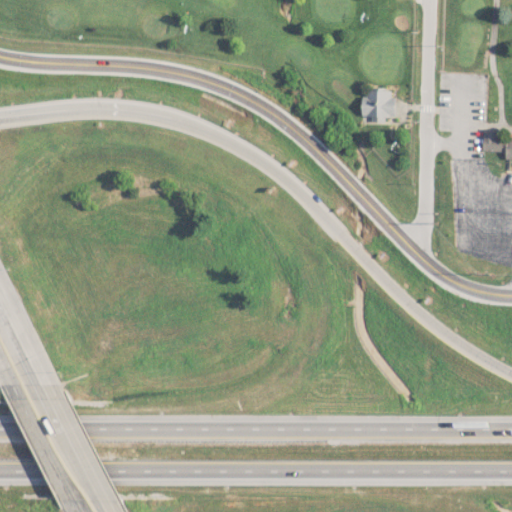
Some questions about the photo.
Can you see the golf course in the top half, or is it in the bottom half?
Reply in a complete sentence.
It is in the top half that the golf course appears.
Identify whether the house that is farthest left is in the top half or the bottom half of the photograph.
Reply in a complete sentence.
Seen from above, the house that is farthest left lies in the top half of the view.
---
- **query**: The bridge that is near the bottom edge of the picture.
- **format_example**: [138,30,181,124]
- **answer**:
[0,383,126,512]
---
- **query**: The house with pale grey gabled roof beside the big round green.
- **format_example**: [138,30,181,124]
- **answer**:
[362,88,396,122]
